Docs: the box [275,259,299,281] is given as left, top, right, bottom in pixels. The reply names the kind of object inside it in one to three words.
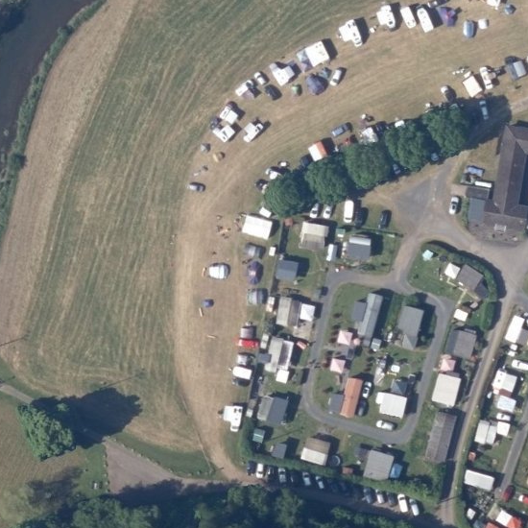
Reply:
house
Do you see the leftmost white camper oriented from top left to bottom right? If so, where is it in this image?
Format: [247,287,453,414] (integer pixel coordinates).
[213,125,232,143]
